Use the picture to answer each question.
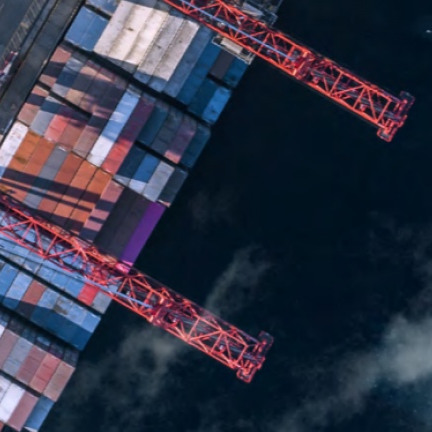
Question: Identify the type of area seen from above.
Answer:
port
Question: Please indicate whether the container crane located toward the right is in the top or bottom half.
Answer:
top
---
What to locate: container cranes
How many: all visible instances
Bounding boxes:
[0,179,274,377]
[156,0,408,139]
